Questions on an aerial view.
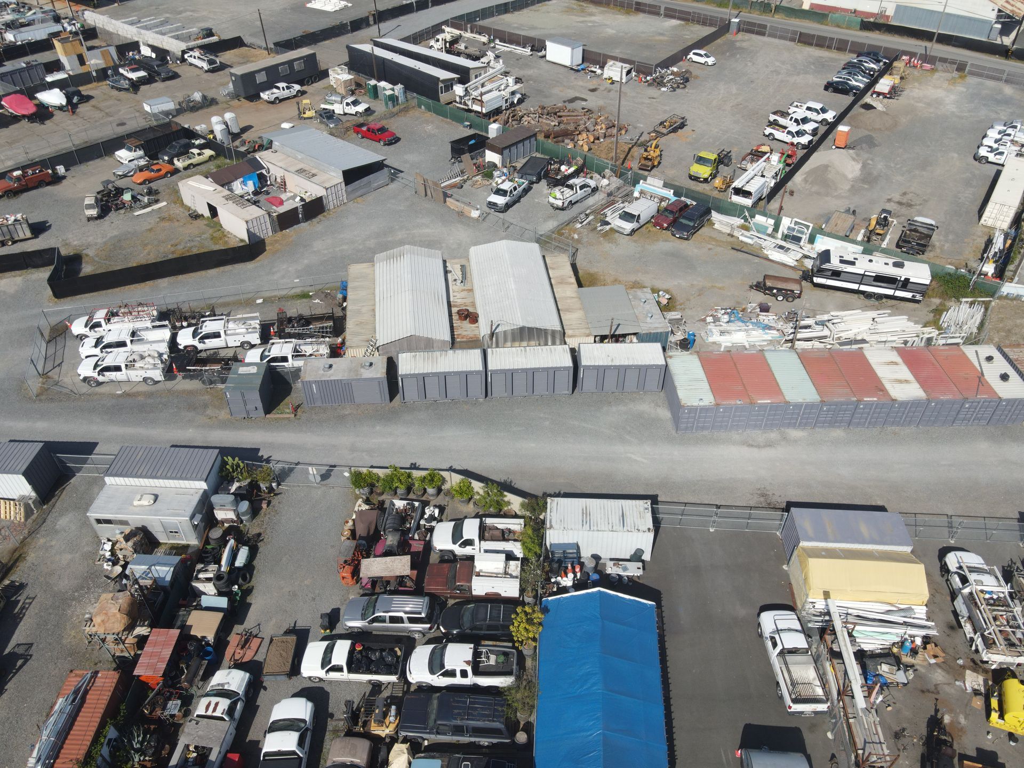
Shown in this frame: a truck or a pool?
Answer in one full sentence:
The one in the frame is a truck.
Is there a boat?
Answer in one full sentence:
Yes, there's a boat here.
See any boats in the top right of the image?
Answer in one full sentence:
No, in the top right of the image there is no boat.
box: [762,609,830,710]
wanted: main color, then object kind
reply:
white truck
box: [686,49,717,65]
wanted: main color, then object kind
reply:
white car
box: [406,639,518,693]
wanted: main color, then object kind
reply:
white truck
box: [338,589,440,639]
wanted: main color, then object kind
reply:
gray car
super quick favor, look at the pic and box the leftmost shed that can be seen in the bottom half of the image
[0,446,60,508]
